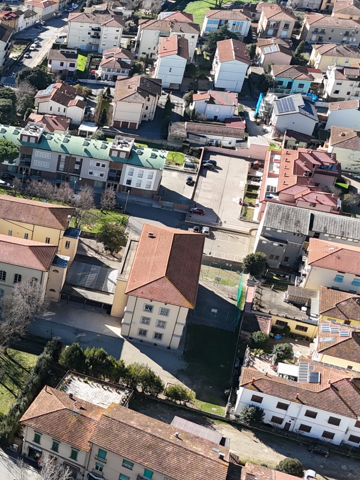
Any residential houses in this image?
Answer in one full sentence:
Yes, a residential house is visible in the scene.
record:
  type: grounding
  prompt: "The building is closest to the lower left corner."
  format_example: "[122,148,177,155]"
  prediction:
[22,369,120,475]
